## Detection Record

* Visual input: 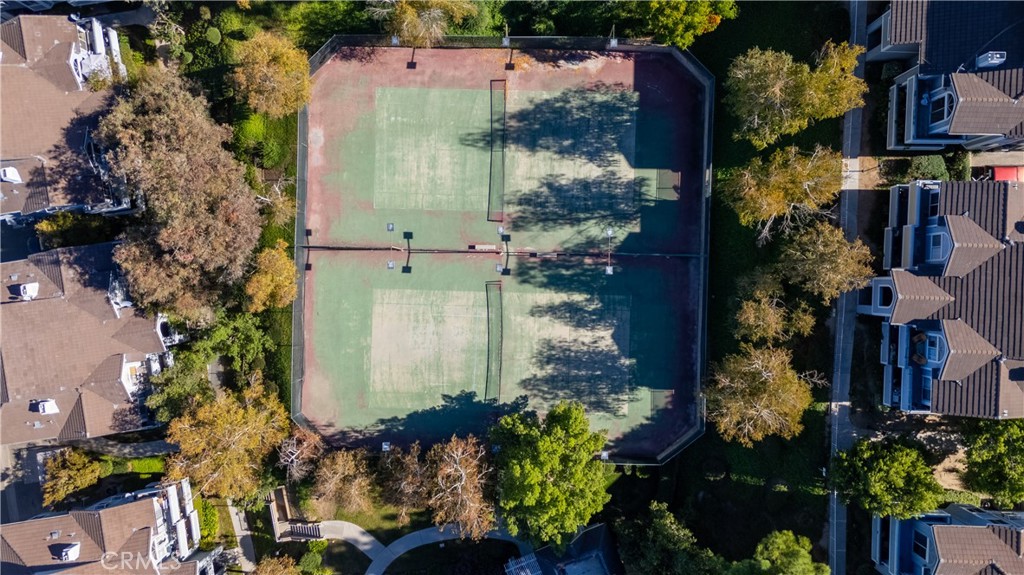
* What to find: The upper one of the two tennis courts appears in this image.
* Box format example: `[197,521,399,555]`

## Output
[304,46,705,255]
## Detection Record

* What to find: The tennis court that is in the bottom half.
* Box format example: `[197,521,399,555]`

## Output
[301,247,701,458]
